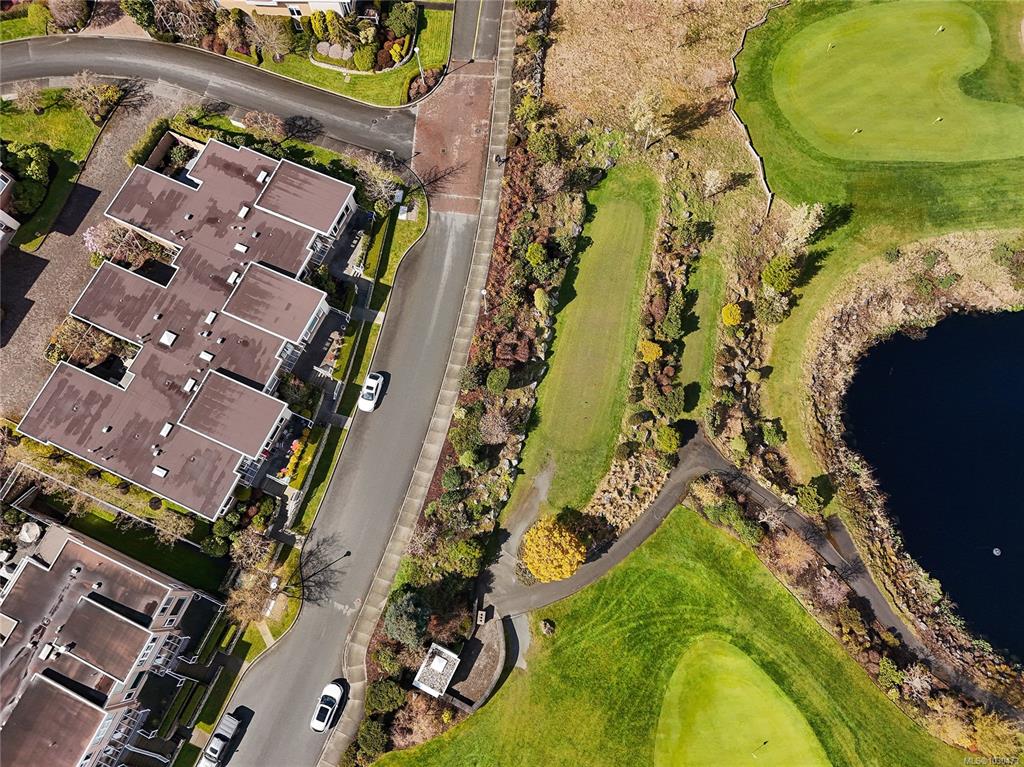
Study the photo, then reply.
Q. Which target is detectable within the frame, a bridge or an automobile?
automobile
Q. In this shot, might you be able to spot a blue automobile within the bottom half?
No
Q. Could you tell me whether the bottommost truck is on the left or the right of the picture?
left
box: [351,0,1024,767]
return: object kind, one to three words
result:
golf course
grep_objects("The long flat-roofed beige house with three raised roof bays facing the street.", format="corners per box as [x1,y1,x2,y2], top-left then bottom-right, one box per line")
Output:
[15,139,361,523]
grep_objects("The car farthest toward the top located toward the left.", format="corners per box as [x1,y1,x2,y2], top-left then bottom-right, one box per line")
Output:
[358,370,383,411]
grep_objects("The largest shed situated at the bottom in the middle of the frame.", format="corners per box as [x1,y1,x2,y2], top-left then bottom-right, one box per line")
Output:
[410,640,461,700]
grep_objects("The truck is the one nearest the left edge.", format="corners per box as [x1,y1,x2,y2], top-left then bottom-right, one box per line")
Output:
[192,712,239,767]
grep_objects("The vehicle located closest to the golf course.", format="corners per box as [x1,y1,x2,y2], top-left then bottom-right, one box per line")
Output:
[308,681,346,736]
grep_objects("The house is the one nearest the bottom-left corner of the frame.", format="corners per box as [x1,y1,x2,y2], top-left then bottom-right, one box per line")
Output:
[0,532,195,767]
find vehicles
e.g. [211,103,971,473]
[308,681,346,736]
[358,370,383,411]
[192,712,239,767]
